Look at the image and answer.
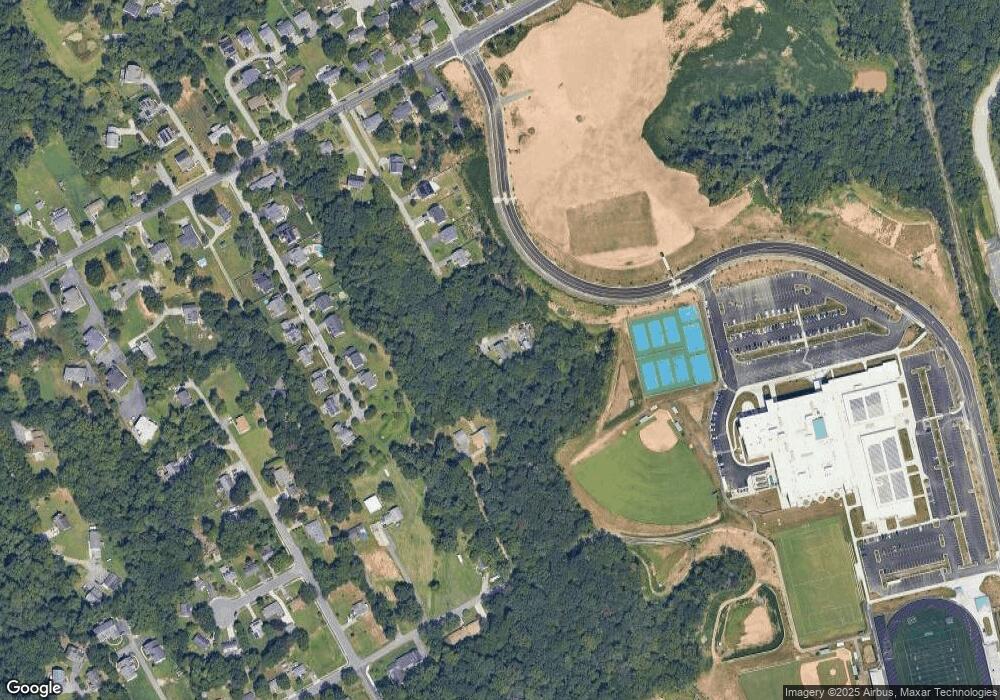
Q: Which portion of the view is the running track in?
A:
bottom right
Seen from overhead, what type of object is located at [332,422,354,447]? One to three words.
house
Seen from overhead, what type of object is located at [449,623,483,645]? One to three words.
barn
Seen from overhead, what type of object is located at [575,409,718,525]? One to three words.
baseball field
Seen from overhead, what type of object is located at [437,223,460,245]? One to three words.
house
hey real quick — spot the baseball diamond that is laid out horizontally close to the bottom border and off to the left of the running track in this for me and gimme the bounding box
[739,648,856,700]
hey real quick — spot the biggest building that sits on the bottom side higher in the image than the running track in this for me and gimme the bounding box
[739,360,916,523]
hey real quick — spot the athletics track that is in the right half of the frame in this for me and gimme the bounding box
[873,599,990,700]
